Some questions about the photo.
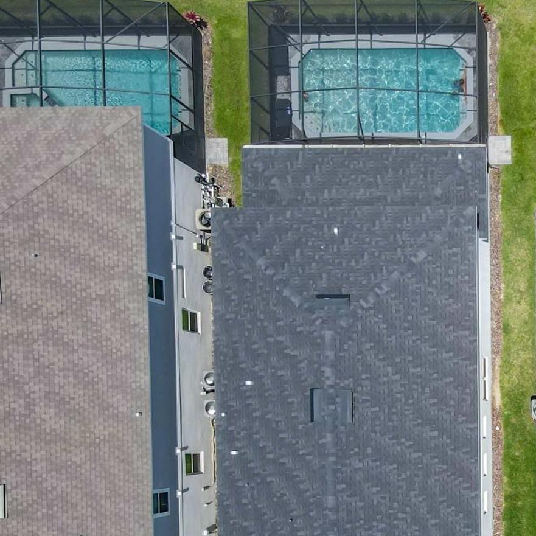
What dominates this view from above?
buildings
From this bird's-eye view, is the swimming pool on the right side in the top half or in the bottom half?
top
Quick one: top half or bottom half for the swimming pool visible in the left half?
top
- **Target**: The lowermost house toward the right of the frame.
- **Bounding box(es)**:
[212,143,491,536]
